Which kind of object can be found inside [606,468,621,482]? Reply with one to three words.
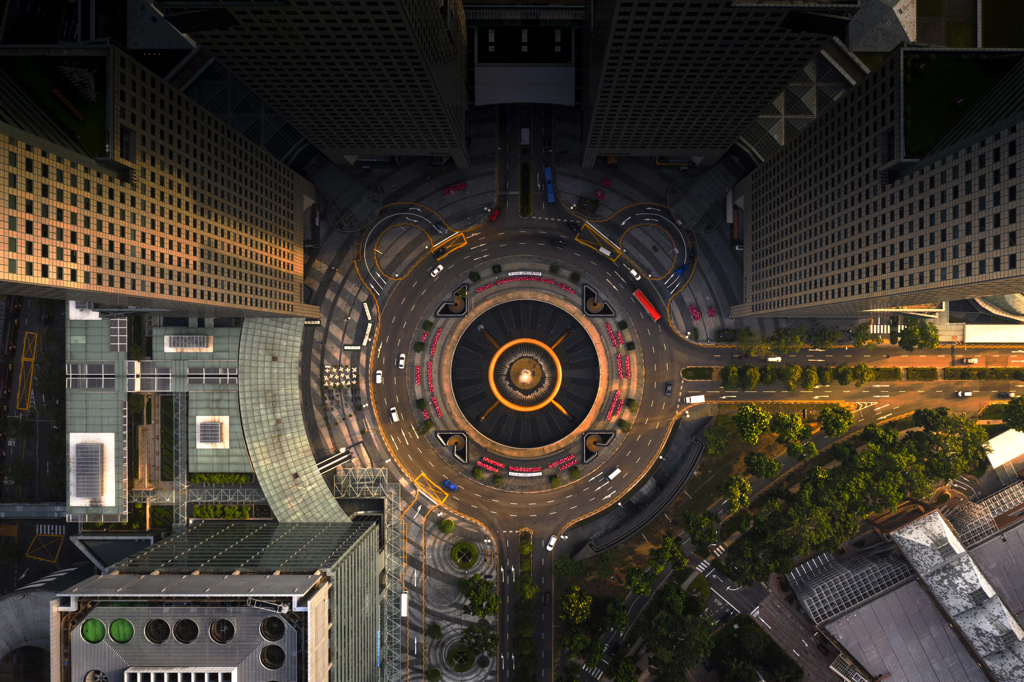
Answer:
car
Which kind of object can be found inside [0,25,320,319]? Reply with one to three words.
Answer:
building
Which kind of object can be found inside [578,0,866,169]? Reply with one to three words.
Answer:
building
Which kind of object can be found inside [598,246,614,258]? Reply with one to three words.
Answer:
vehicle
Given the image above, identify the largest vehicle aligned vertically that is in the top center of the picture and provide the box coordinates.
[544,165,557,206]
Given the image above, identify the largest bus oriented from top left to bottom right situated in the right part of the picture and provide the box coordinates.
[632,288,661,322]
